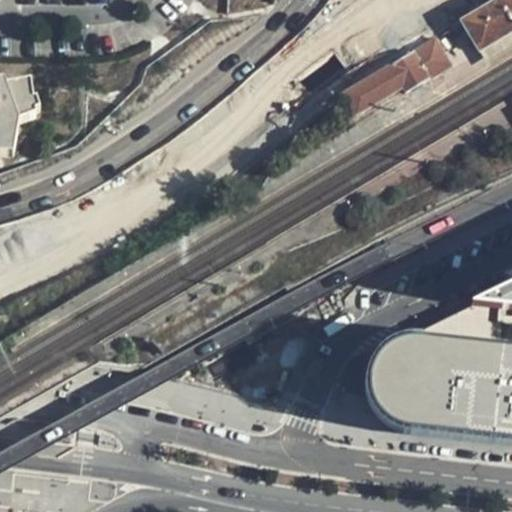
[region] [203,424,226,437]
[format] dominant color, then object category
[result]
white vehicle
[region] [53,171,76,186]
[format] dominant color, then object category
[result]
white car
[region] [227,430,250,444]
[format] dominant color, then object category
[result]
white vehicle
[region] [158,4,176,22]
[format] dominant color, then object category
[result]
white car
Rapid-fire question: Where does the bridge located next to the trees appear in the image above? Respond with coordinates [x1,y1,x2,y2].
[0,178,512,473]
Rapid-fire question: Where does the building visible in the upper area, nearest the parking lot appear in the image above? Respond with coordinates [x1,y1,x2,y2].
[0,72,42,168]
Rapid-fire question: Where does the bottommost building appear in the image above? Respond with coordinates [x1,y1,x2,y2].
[364,329,512,446]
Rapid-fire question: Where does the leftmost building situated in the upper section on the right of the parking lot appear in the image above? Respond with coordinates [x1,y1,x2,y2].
[342,36,452,117]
